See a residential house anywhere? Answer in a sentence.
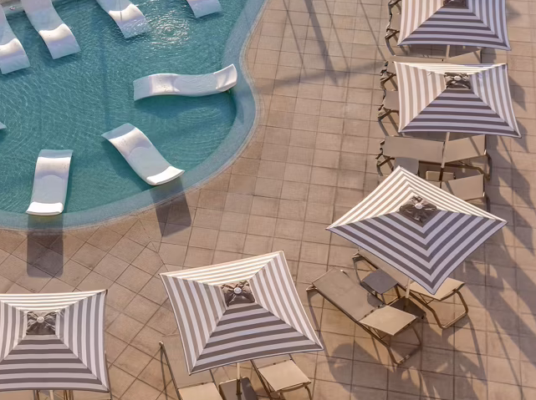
No, this view has no residential house in it.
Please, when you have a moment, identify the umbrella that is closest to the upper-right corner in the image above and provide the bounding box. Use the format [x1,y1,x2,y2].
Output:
[396,0,509,64]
